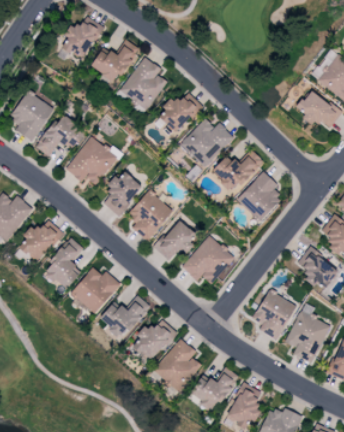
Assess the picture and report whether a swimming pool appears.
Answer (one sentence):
Yes, I can see a swimming pool in this picture.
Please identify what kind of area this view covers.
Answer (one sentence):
It's a residential area.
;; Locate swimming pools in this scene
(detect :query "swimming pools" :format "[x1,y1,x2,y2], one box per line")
[146,127,166,145]
[272,270,288,288]
[200,176,222,195]
[166,181,186,200]
[332,272,344,294]
[233,206,248,228]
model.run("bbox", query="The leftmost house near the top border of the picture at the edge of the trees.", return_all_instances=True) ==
[59,20,108,61]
